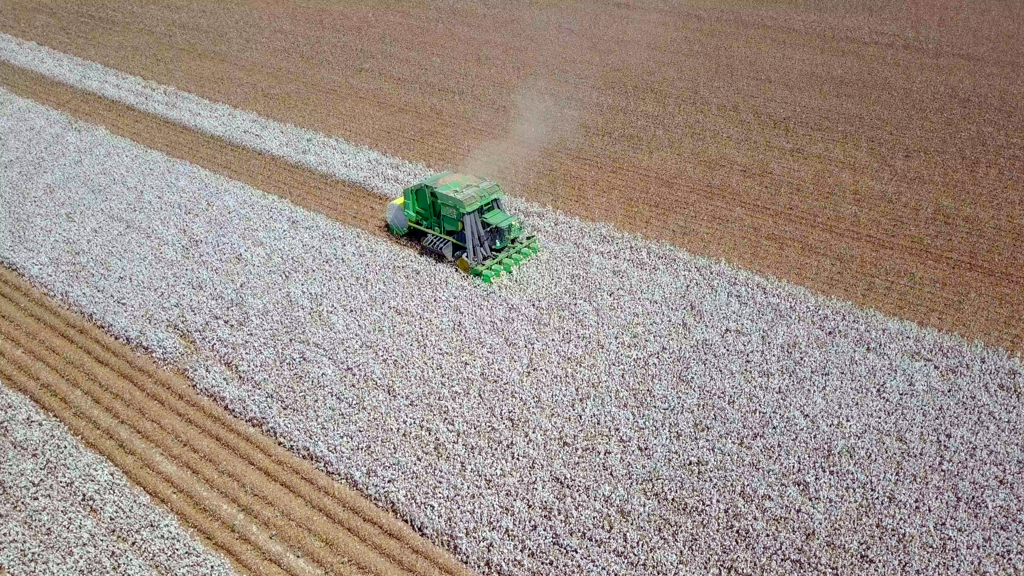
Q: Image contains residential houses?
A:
No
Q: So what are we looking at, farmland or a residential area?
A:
farmland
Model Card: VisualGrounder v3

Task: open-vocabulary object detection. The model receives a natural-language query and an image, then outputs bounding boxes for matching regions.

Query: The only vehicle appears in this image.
[388,165,542,293]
